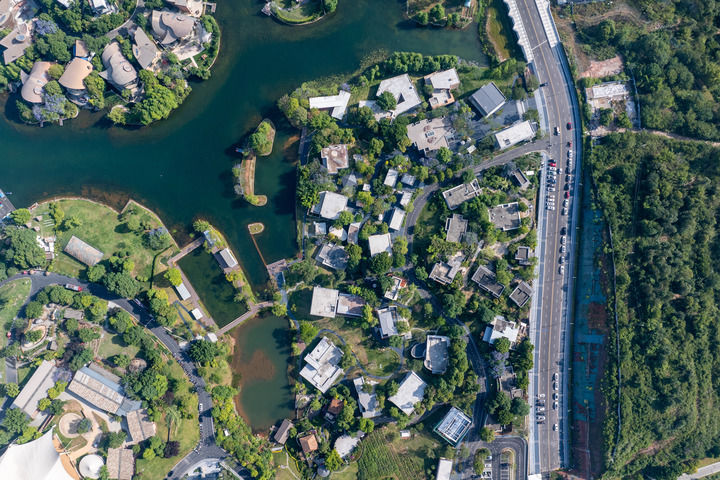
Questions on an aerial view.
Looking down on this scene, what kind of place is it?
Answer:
residential area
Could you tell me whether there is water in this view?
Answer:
Yes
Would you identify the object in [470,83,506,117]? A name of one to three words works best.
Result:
house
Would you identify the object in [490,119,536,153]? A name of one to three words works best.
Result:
house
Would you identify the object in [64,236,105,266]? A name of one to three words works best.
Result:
building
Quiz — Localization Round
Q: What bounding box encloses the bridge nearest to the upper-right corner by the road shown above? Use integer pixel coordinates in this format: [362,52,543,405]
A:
[506,0,563,61]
